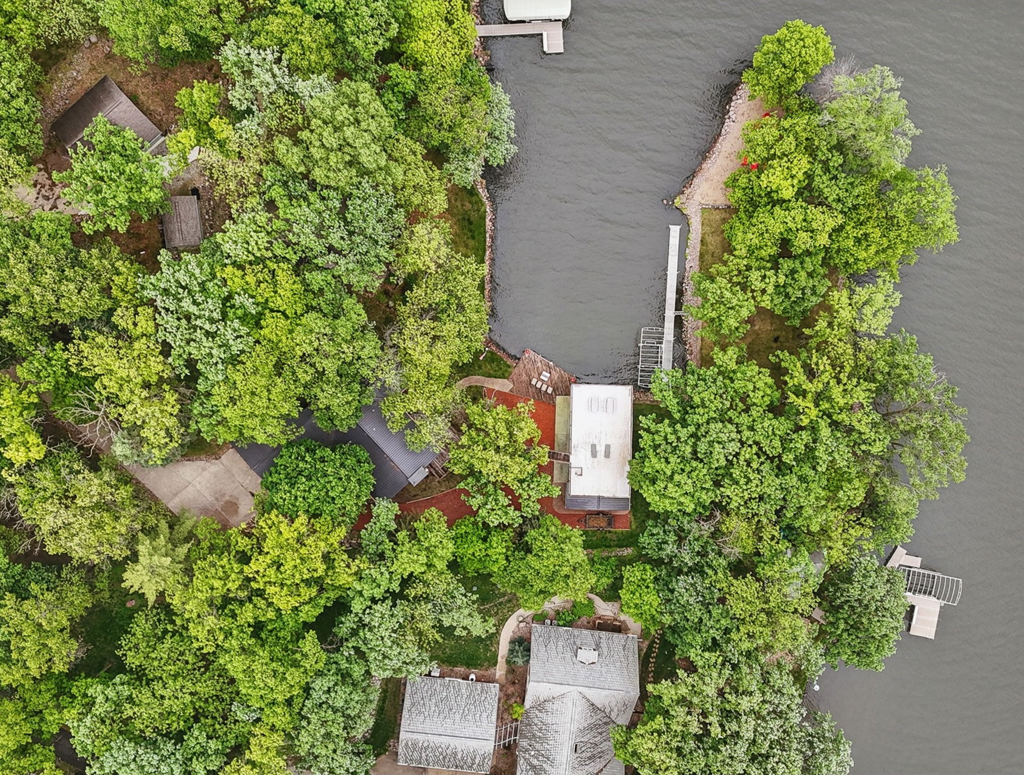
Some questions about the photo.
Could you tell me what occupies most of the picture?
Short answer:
trees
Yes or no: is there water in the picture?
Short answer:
Yes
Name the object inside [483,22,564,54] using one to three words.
pier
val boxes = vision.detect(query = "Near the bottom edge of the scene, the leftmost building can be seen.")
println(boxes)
[397,674,500,775]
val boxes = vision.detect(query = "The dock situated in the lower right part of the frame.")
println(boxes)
[883,550,941,641]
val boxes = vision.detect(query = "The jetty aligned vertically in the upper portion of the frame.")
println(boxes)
[662,225,683,374]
